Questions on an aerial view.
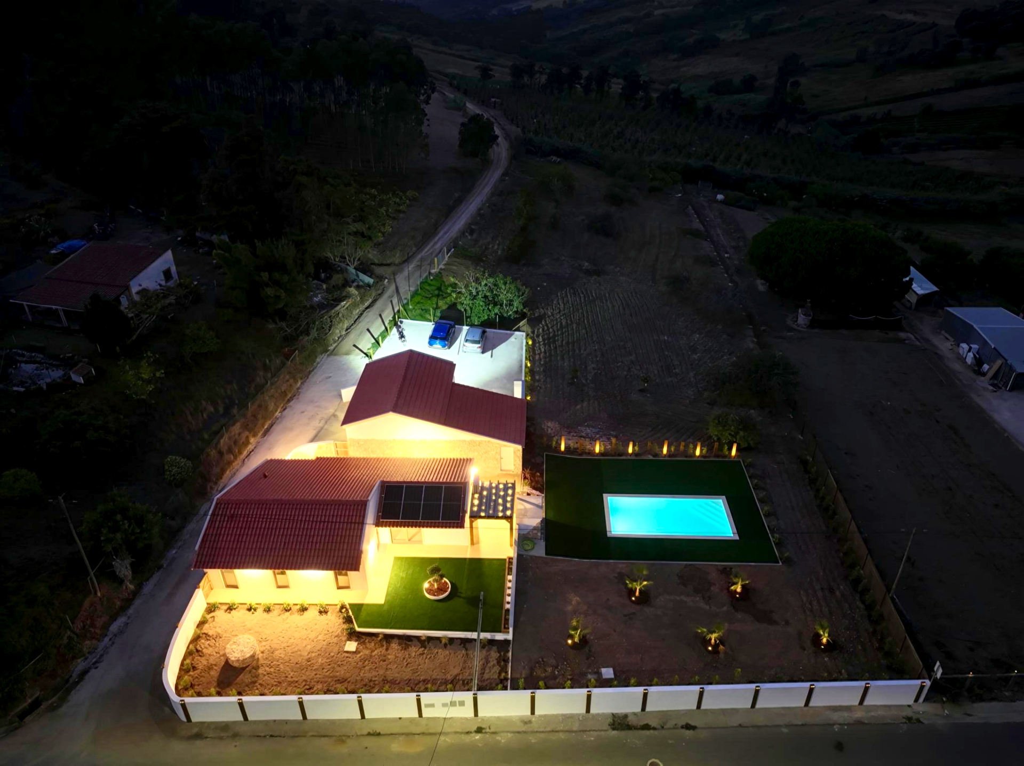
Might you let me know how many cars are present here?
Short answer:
2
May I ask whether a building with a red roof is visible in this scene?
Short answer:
Yes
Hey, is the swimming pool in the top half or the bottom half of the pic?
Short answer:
bottom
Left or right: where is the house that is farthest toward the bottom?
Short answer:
left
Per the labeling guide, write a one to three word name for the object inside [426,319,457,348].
car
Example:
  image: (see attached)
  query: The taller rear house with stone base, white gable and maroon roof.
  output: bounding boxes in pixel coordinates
[340,348,528,493]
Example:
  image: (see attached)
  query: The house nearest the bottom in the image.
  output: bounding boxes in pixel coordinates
[193,456,480,592]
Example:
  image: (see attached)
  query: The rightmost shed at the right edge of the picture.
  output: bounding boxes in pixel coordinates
[939,305,1024,396]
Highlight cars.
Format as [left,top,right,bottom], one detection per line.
[426,319,457,348]
[462,325,487,352]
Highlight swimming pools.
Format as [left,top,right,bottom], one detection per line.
[603,494,739,540]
